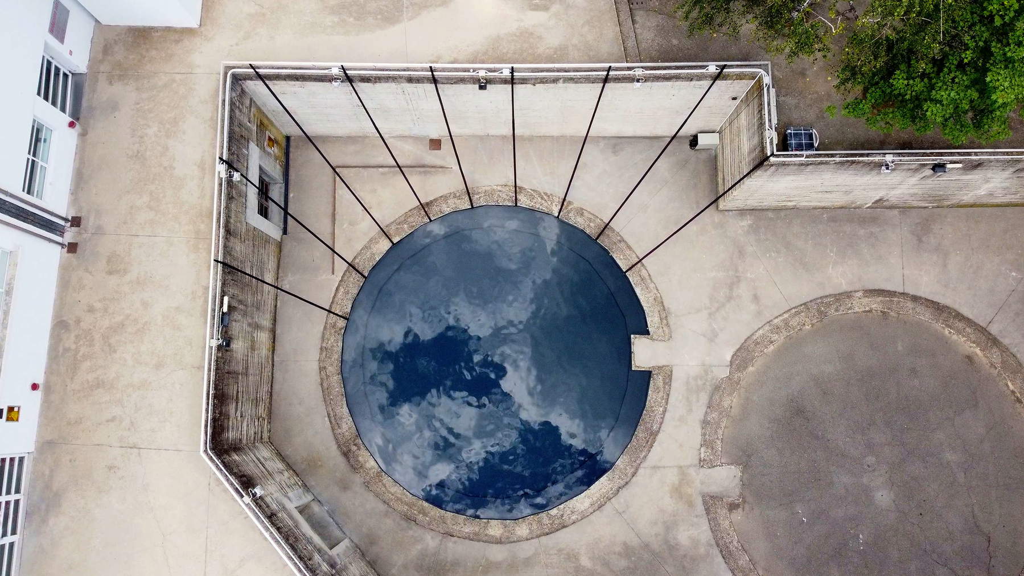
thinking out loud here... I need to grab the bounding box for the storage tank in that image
[776,122,821,152]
